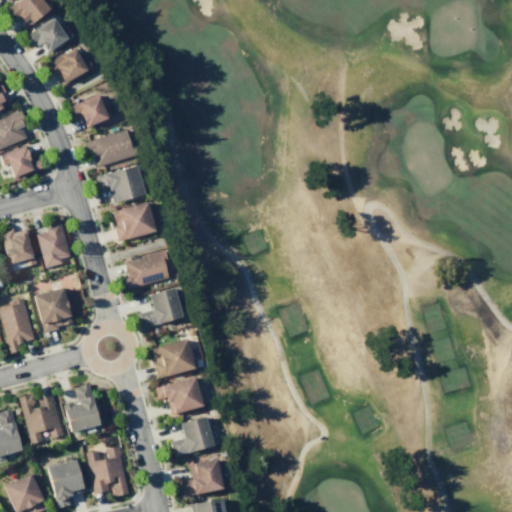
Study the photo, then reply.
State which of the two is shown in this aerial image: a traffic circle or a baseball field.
traffic circle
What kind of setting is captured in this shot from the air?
golf course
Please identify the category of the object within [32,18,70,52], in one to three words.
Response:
house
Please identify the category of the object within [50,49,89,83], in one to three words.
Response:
house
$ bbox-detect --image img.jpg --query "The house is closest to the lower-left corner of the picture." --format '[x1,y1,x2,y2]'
[6,476,44,512]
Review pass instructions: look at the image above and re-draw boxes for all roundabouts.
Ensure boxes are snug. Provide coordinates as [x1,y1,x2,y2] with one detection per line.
[82,320,138,376]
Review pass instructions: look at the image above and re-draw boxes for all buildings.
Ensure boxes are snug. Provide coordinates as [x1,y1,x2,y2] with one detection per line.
[86,448,129,496]
[48,460,84,508]
[66,383,101,432]
[36,288,74,332]
[139,289,184,325]
[72,96,111,128]
[124,250,171,285]
[20,394,66,446]
[2,228,36,264]
[2,144,44,180]
[112,202,158,240]
[0,408,20,455]
[186,458,226,495]
[96,165,143,202]
[171,419,215,455]
[0,300,32,354]
[14,0,51,24]
[156,376,206,416]
[83,130,138,166]
[32,18,70,52]
[6,476,44,512]
[198,498,228,512]
[36,225,70,267]
[0,110,30,150]
[152,340,198,378]
[50,49,89,83]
